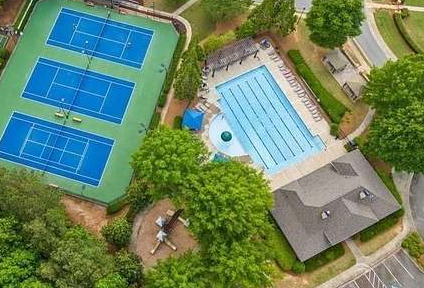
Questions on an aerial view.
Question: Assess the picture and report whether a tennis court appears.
Yes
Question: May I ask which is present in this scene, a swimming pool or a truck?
swimming pool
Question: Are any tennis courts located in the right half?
No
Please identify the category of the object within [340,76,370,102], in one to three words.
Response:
building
